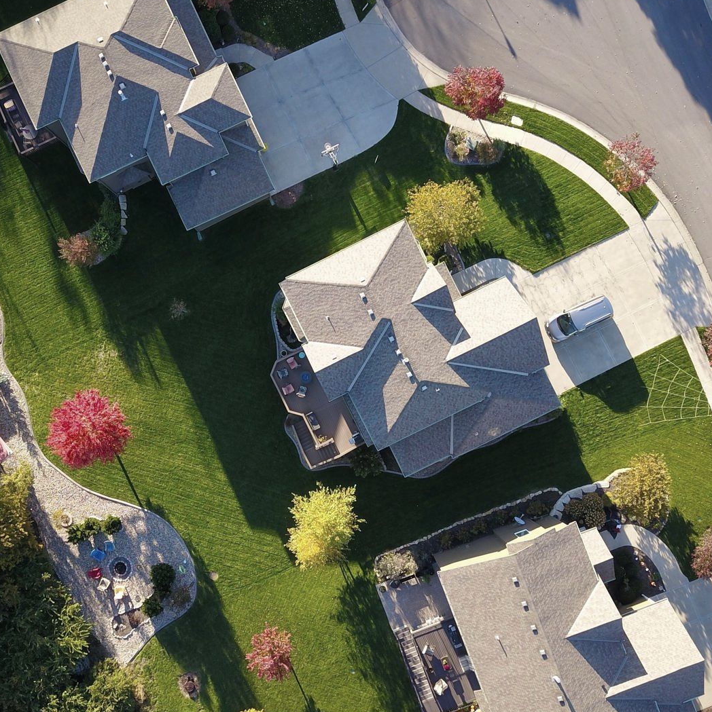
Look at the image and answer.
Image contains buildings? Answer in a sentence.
Yes, a building is visible in the scene.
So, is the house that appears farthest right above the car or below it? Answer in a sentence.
The house that appears farthest right is located below the car in this view.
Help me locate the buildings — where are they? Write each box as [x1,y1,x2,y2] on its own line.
[0,0,274,237]
[276,218,562,479]
[431,512,705,712]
